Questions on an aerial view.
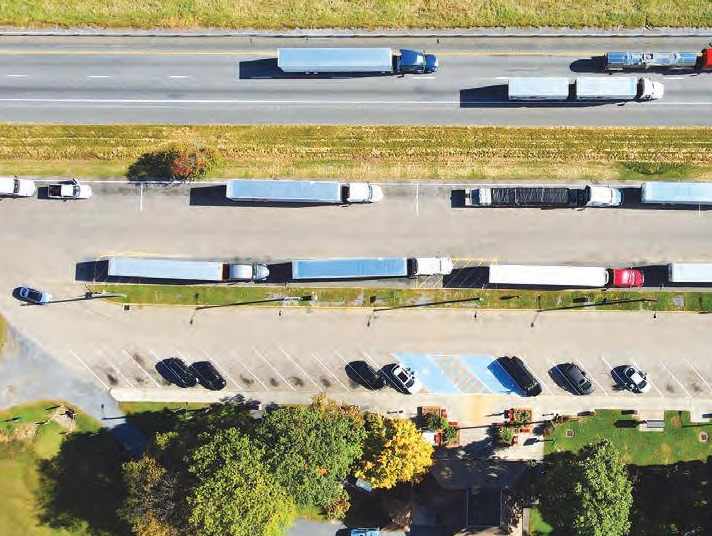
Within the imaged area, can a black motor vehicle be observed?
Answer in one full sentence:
Yes, a black motor vehicle appears in the view.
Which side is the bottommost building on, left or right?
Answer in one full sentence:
It is on the right.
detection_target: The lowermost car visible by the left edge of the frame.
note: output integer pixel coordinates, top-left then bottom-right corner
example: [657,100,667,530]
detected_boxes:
[20,288,54,304]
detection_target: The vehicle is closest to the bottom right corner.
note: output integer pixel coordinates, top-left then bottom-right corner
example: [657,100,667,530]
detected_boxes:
[621,363,648,392]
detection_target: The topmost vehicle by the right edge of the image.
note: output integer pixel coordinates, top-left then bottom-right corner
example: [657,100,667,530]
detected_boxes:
[603,52,712,78]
